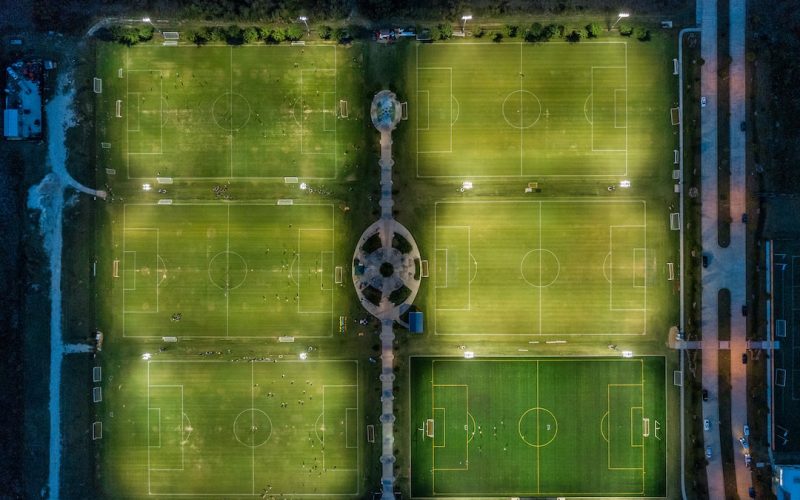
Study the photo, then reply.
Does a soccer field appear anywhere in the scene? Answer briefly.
Yes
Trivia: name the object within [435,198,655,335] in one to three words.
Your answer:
soccer field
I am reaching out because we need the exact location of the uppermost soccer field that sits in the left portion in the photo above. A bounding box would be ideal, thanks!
[127,45,336,179]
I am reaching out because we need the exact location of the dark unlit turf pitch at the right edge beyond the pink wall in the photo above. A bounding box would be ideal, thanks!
[774,238,800,459]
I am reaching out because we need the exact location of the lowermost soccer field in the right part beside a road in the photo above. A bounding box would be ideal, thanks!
[410,356,667,498]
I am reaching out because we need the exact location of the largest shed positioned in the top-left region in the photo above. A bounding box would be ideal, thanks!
[5,109,23,138]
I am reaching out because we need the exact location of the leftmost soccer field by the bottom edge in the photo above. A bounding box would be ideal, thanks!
[148,361,358,495]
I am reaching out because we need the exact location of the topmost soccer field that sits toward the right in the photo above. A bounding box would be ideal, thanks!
[416,42,627,180]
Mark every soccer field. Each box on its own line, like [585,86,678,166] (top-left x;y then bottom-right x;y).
[148,361,358,495]
[435,198,655,335]
[774,238,800,459]
[123,204,334,337]
[416,42,627,180]
[127,45,336,179]
[410,356,667,498]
